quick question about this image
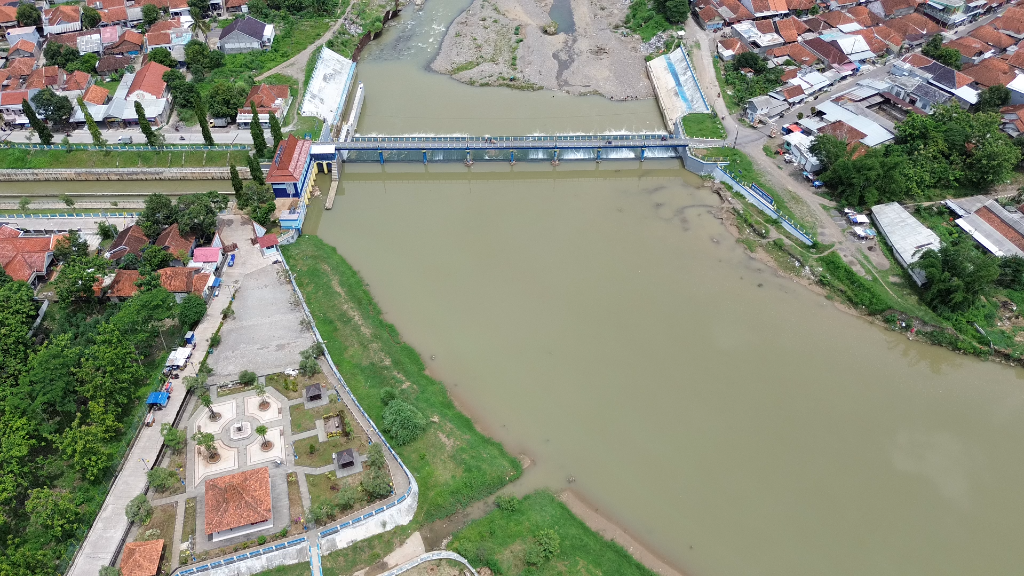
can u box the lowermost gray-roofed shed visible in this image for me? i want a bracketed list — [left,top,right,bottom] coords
[334,446,357,474]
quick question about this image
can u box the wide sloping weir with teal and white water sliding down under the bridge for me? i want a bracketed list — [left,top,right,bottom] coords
[339,133,680,161]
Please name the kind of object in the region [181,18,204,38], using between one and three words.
house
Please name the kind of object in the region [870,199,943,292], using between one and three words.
building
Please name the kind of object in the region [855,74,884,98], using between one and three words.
house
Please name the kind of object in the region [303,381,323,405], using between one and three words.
shed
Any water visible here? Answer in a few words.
Yes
